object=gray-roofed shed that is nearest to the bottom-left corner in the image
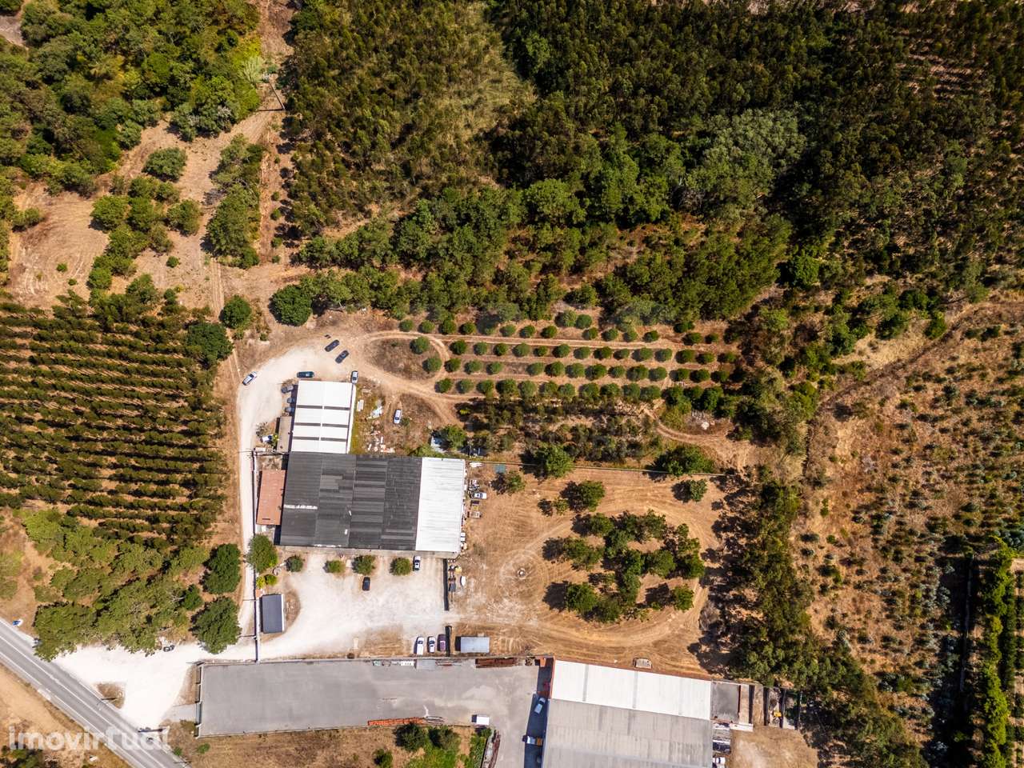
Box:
[262,591,286,633]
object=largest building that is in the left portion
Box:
[280,452,466,553]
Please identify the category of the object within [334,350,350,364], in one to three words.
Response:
car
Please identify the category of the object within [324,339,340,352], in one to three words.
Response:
vehicle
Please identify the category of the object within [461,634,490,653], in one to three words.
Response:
shed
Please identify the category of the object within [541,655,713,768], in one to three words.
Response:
shed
